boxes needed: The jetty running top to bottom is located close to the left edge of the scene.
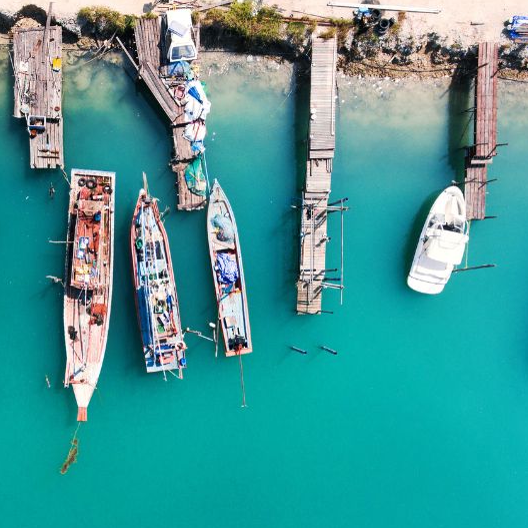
[7,29,66,169]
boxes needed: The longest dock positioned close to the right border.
[454,43,512,220]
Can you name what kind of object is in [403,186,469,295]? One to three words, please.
boat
